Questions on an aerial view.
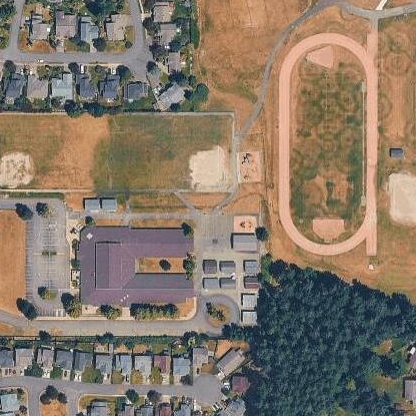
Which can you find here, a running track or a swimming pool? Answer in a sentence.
This aerial view contains a running track.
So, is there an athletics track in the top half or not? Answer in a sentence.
Yes, in the top half there is an athletics track.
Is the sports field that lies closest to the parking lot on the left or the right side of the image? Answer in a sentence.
The sports field that lies closest to the parking lot sits on the left side.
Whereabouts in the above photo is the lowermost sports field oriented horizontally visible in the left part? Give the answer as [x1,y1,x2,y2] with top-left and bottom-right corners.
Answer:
[0,112,236,192]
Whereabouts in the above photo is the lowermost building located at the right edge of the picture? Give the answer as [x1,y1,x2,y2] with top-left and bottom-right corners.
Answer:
[397,379,416,406]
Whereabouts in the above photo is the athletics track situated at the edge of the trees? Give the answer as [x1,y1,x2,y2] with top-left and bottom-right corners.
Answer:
[279,32,378,255]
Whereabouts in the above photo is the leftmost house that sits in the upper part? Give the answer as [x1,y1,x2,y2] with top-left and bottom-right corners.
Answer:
[4,74,25,102]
